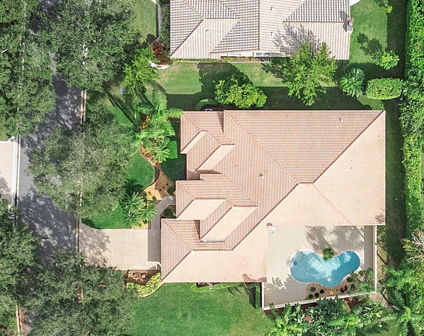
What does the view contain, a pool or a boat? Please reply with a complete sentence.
The image shows a pool.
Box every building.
[160,110,386,283]
[169,0,354,62]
